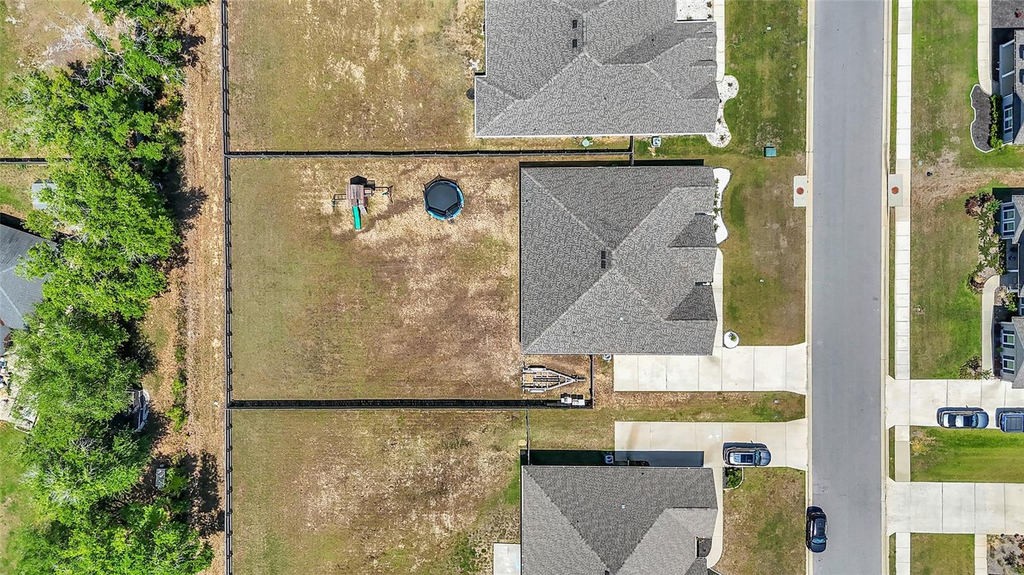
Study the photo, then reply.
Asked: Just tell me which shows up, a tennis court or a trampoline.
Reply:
trampoline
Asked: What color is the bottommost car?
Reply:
black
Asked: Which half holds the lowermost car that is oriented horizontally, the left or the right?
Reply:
right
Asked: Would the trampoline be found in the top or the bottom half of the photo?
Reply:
top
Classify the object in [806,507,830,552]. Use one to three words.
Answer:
car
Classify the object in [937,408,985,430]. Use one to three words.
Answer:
car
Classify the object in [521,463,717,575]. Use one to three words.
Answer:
house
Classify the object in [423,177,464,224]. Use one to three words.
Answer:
trampoline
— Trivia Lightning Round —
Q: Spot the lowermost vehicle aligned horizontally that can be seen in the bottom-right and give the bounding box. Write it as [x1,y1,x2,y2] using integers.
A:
[723,445,770,468]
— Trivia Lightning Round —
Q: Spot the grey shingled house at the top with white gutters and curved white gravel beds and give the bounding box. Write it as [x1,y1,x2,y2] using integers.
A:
[474,0,719,137]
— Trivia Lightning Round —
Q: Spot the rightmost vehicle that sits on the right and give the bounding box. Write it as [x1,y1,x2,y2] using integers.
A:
[995,410,1024,431]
